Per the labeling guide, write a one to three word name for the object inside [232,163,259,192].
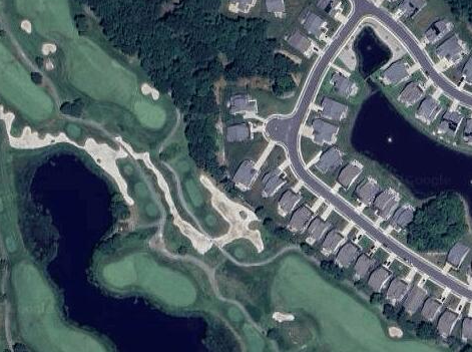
house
